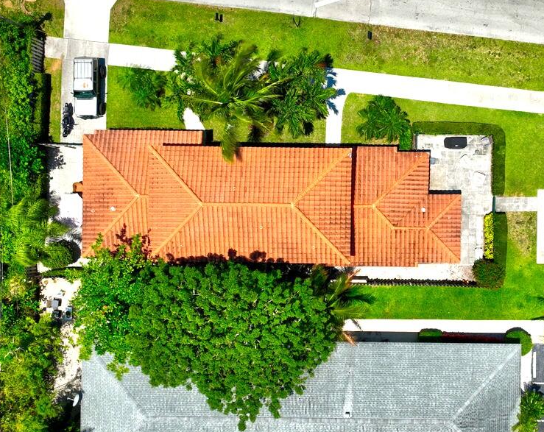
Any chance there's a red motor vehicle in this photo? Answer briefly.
No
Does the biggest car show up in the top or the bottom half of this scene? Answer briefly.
top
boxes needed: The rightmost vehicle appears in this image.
[67,54,104,121]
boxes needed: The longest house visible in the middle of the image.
[72,130,463,268]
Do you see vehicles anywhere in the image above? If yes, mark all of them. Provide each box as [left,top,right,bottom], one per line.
[67,54,104,121]
[55,102,71,136]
